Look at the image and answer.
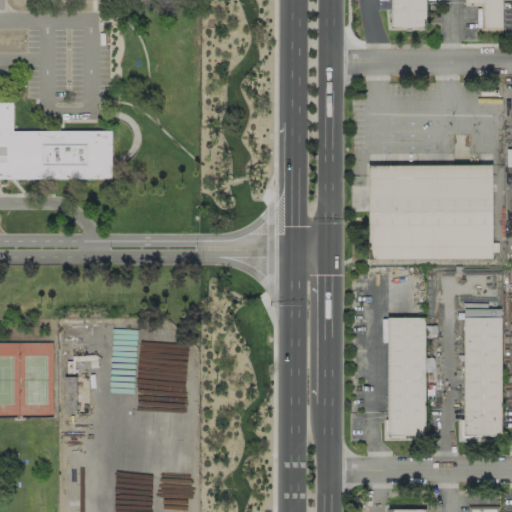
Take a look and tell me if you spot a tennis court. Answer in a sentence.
Yes, looking at the shot, I can spot a tennis court.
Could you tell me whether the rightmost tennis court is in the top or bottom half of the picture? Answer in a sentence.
It is in the bottom half that the rightmost tennis court appears.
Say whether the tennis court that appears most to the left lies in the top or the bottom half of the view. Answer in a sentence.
The tennis court that appears most to the left is in the bottom half of the image.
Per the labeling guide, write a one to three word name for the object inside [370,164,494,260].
building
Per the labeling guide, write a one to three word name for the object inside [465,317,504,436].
building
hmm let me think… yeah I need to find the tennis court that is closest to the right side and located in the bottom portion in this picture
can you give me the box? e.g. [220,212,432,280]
[20,344,54,416]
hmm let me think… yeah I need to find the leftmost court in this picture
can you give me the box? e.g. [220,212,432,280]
[0,344,20,416]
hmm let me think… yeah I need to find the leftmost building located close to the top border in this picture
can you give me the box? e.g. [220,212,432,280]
[391,0,428,28]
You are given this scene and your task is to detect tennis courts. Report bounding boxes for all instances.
[0,344,20,416]
[20,344,54,416]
